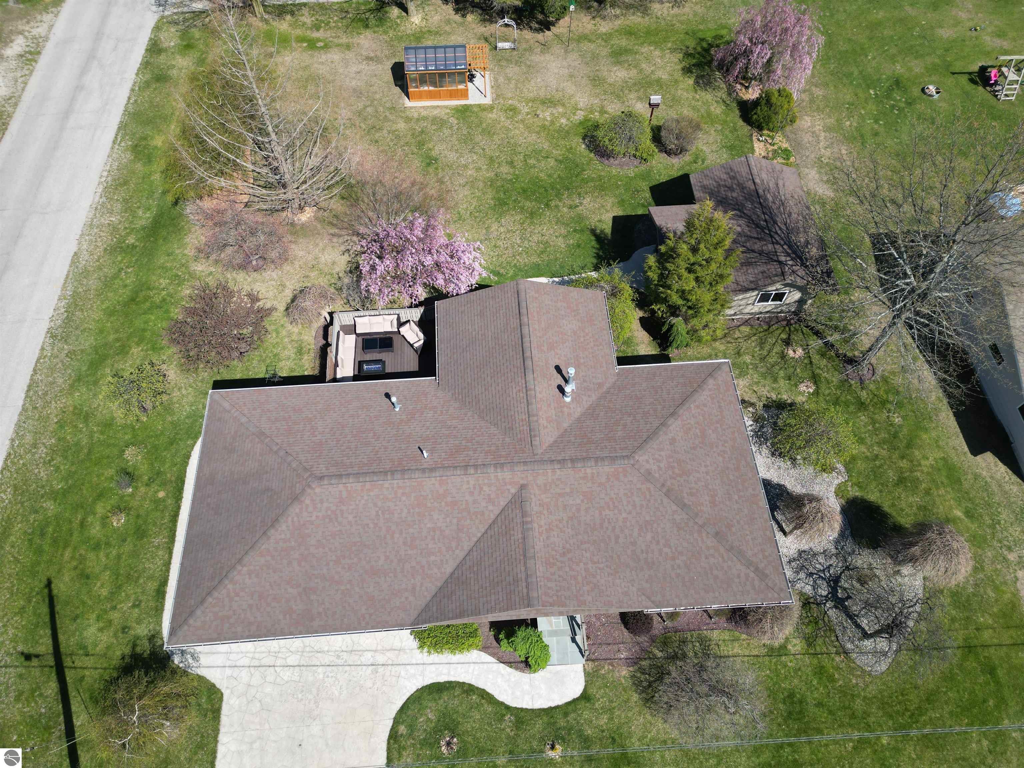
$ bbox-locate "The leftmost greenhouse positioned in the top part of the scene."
[403,42,490,101]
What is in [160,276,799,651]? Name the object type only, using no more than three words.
house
